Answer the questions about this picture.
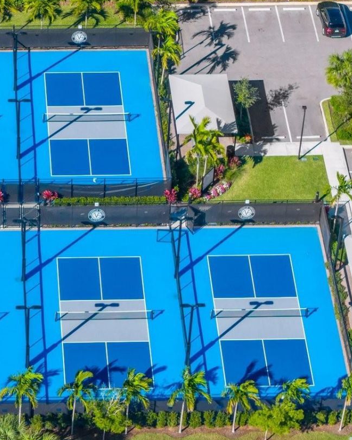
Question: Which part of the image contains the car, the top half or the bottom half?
top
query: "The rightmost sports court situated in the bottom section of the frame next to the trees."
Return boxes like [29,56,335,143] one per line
[171,226,352,398]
